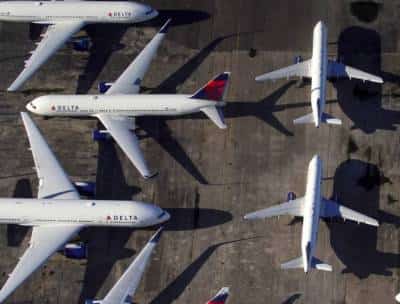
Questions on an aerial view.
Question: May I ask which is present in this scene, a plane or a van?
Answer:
plane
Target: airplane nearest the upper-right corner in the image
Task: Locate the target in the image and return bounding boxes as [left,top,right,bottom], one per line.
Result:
[255,21,382,127]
